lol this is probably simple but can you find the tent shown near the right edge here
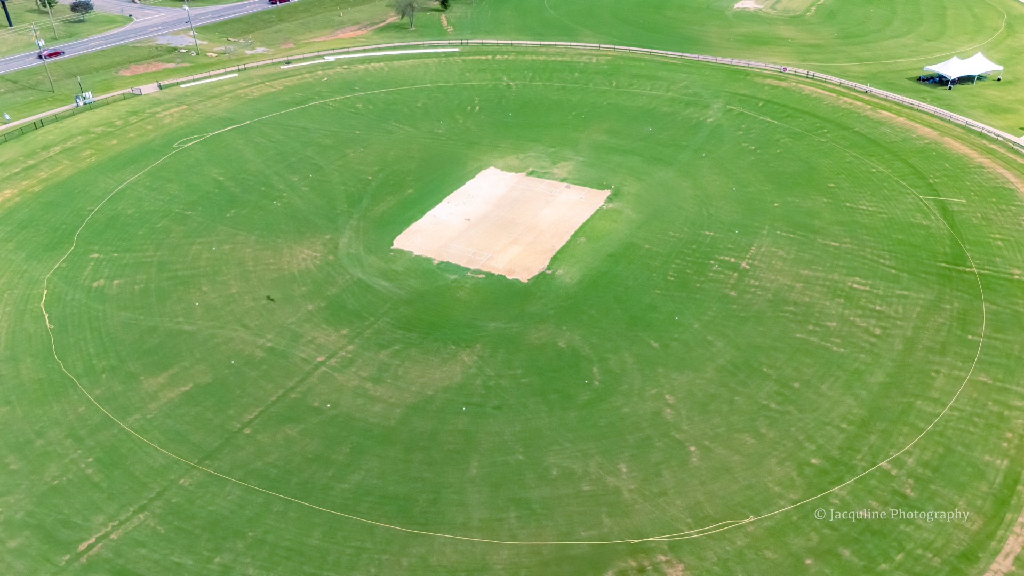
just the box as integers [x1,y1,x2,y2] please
[917,52,1005,89]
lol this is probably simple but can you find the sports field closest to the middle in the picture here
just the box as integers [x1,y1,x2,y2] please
[392,166,612,282]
